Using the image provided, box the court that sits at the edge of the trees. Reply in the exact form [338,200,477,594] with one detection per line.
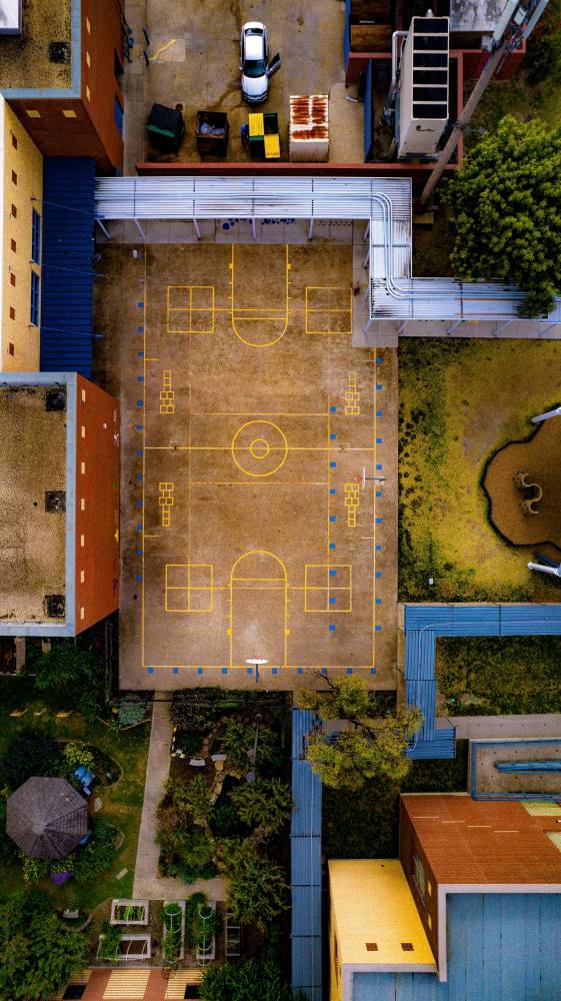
[96,243,398,691]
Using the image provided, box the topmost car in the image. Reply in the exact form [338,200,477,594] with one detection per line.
[237,22,284,105]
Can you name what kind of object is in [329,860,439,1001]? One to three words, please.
building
